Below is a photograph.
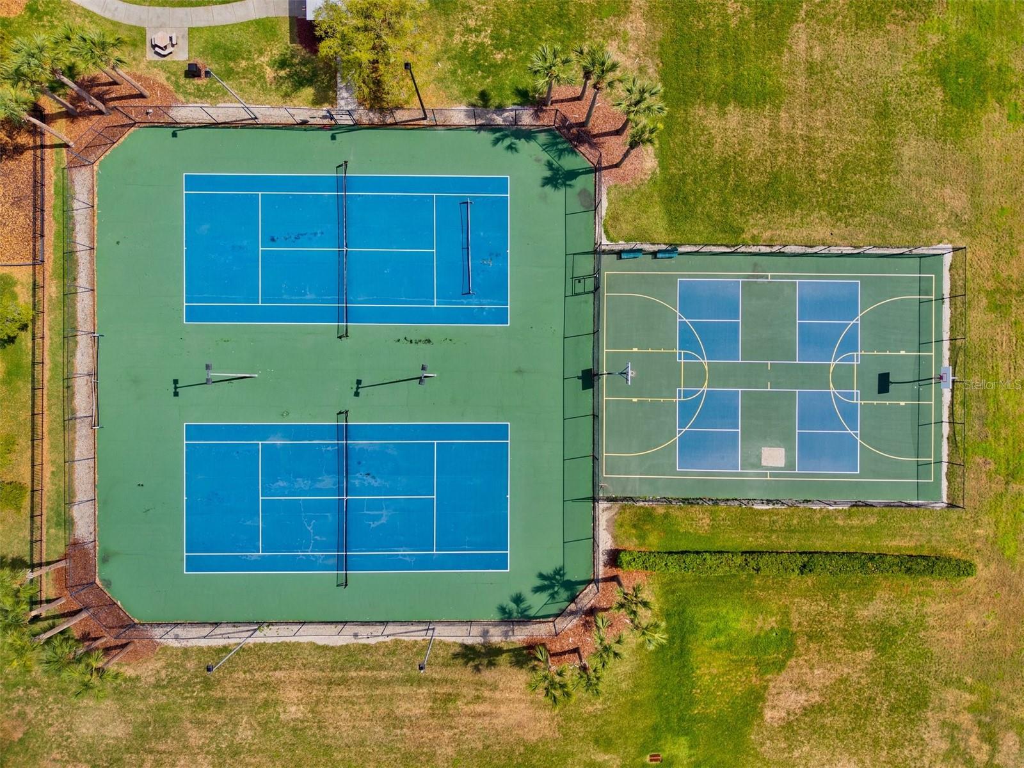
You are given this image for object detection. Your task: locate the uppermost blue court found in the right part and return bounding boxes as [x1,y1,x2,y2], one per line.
[677,279,860,363]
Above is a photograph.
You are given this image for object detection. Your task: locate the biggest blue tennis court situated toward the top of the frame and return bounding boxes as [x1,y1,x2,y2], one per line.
[184,173,509,325]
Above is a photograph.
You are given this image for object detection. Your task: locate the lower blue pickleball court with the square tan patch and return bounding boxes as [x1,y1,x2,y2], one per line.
[677,388,860,473]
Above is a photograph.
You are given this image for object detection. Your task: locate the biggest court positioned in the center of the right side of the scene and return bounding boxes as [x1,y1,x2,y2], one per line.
[595,254,943,502]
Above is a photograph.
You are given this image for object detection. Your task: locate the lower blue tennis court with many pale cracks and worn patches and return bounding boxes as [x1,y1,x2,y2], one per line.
[184,423,510,573]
